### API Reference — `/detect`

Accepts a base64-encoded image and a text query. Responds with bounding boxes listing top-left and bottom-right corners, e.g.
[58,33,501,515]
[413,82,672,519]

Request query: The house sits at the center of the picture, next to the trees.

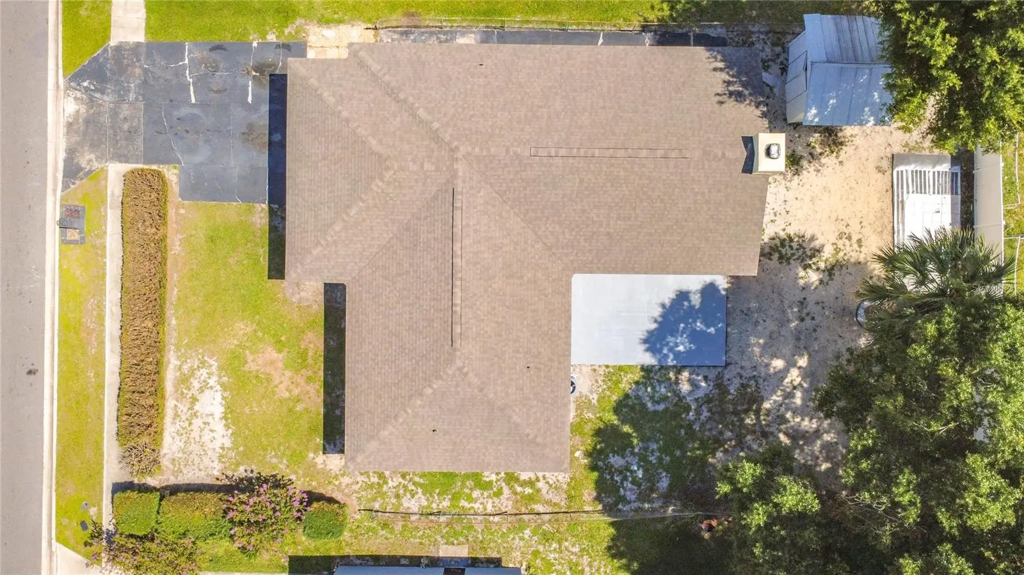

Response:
[286,45,784,472]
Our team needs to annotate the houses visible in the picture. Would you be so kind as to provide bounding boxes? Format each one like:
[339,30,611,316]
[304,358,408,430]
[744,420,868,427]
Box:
[331,564,522,575]
[286,45,784,472]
